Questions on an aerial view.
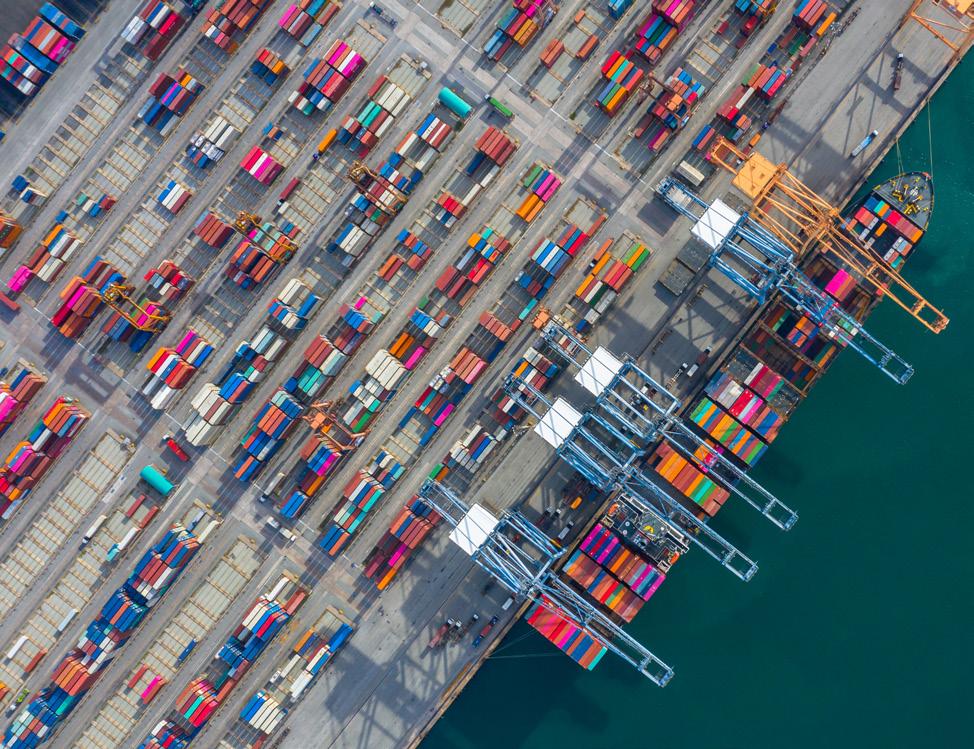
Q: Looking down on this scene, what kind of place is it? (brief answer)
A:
port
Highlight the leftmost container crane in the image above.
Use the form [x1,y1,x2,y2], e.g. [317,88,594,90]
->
[103,275,184,332]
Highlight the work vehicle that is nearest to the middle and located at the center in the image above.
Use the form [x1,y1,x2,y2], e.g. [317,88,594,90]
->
[513,416,536,432]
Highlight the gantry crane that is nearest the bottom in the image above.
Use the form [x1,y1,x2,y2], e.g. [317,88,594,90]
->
[420,480,672,685]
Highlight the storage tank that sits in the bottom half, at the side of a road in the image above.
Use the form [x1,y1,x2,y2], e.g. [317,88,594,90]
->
[139,467,177,497]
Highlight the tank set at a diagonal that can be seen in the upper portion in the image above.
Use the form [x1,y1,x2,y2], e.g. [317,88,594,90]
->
[438,88,473,120]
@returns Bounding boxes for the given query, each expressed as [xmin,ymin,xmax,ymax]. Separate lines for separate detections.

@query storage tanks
[438,88,473,120]
[139,467,177,497]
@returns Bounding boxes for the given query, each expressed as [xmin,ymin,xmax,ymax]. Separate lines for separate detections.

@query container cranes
[343,155,411,219]
[534,303,592,358]
[657,180,912,390]
[308,392,378,446]
[634,68,697,137]
[420,480,672,685]
[234,199,308,261]
[695,131,953,342]
[900,0,974,65]
[543,324,797,532]
[103,275,184,332]
[502,375,755,583]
